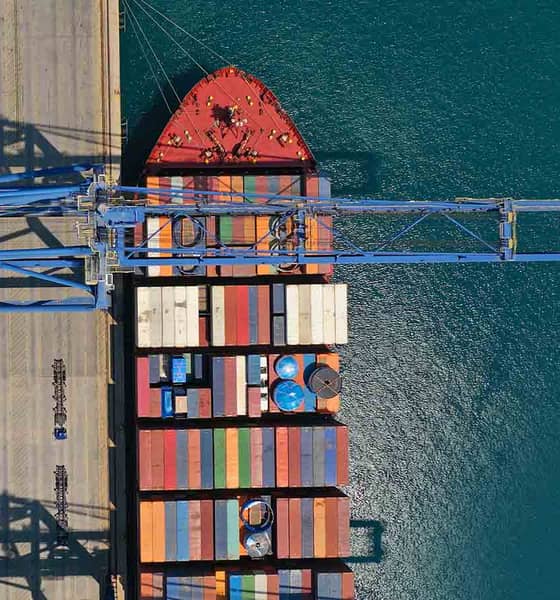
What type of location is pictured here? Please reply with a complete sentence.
It's a port.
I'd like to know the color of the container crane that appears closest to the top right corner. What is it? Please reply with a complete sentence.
The container crane that appears closest to the top right corner looks blue in the image.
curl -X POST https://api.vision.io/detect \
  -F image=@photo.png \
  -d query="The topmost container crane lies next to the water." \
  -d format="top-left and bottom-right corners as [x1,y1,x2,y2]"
[0,160,560,309]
